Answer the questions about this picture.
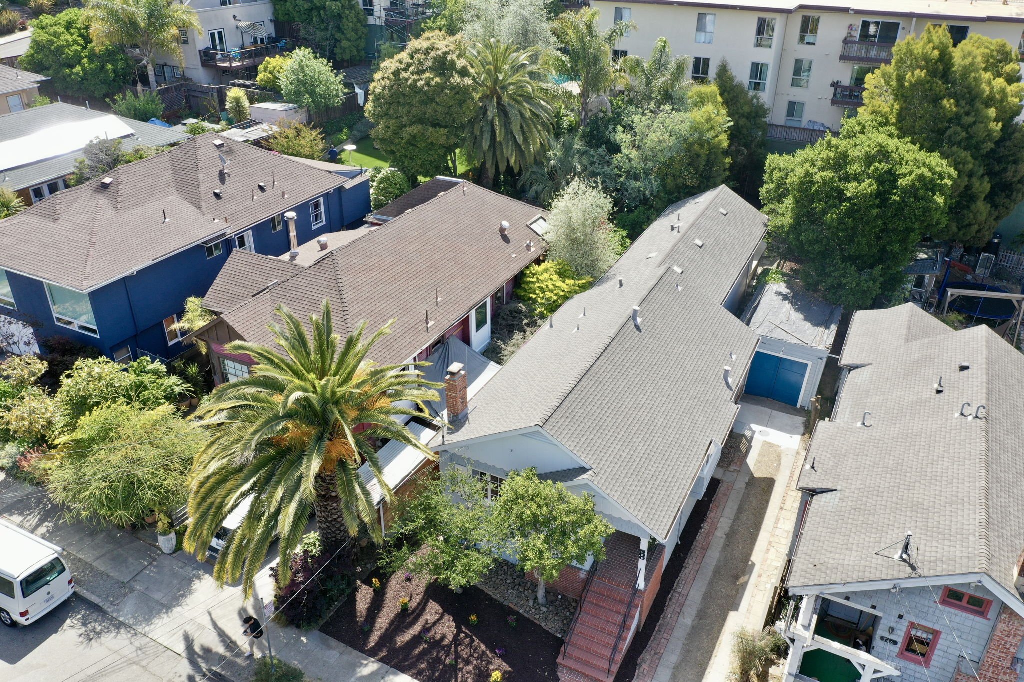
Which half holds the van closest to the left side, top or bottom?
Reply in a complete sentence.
Seen from above, the van closest to the left side lies in the bottom half of the view.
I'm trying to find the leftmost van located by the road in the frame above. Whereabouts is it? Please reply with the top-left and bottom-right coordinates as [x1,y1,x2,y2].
[0,531,72,637]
